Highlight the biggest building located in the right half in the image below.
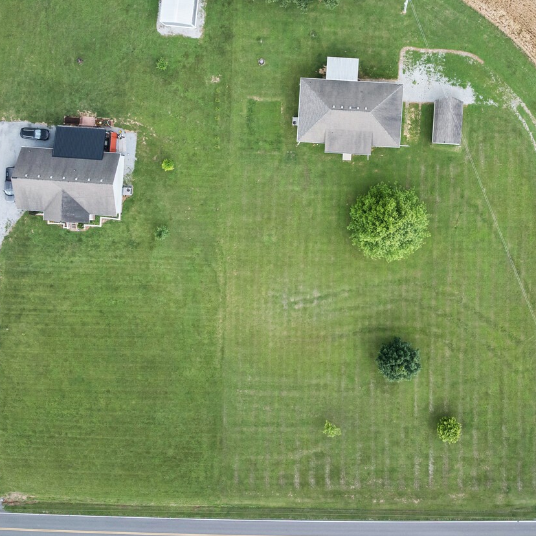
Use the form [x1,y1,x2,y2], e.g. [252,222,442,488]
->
[296,57,409,160]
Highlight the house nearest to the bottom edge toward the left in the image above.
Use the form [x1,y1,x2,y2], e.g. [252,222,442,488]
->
[11,125,124,230]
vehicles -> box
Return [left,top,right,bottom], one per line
[18,126,49,141]
[3,166,15,199]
